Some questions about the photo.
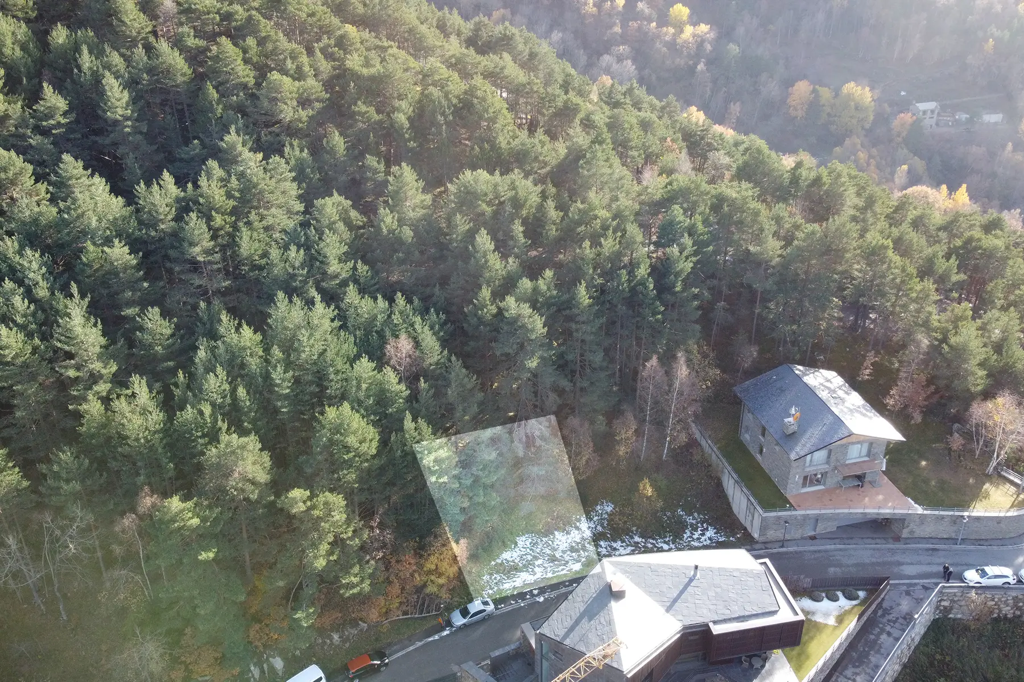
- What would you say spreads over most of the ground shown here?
trees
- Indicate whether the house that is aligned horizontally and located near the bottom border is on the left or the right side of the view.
right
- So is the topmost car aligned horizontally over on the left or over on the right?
right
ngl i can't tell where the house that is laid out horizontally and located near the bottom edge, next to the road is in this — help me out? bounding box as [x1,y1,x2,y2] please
[538,549,804,682]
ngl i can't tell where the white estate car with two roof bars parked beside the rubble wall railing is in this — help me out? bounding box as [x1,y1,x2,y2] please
[957,562,1017,587]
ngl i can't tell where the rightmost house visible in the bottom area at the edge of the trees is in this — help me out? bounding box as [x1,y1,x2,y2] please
[732,363,906,494]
